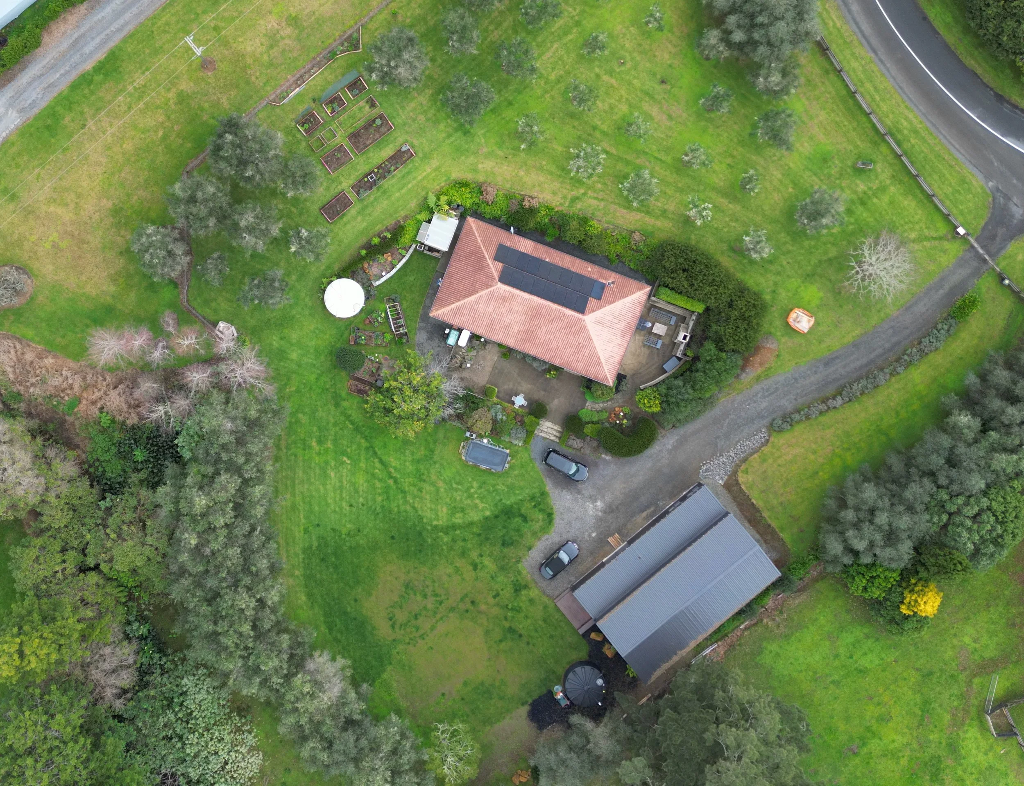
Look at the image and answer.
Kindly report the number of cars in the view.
2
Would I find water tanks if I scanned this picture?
Yes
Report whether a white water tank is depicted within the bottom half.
No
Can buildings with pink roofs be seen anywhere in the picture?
Yes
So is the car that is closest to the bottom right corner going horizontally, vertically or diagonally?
diagonally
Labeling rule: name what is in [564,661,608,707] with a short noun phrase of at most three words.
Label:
water tank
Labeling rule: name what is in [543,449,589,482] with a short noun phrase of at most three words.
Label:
car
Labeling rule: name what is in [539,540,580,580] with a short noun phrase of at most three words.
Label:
car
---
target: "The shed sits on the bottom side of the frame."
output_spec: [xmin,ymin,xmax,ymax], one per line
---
[571,482,782,685]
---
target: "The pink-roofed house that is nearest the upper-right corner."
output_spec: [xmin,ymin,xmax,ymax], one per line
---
[429,215,652,387]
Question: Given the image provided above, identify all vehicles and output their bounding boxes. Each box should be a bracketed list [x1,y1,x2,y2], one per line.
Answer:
[543,449,589,482]
[539,540,580,580]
